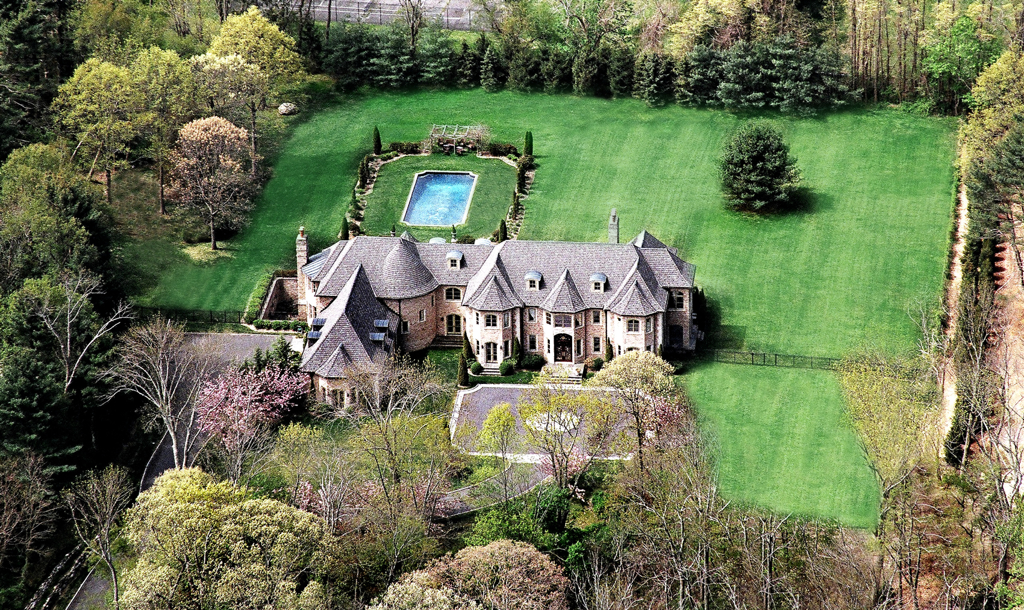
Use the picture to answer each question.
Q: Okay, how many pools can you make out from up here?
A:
1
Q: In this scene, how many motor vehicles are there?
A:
0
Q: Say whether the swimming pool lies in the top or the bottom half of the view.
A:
top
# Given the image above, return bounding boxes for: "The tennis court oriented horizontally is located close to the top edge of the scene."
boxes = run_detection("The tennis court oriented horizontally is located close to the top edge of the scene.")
[284,0,514,29]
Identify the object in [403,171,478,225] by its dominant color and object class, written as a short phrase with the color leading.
blue swimming pool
